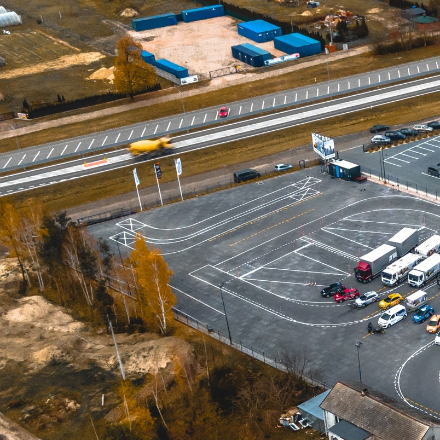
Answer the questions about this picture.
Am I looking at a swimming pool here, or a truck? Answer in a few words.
truck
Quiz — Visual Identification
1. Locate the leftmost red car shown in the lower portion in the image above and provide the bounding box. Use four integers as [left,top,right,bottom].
[334,285,361,301]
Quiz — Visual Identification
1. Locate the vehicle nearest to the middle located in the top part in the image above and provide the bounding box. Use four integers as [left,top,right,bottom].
[232,167,259,181]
